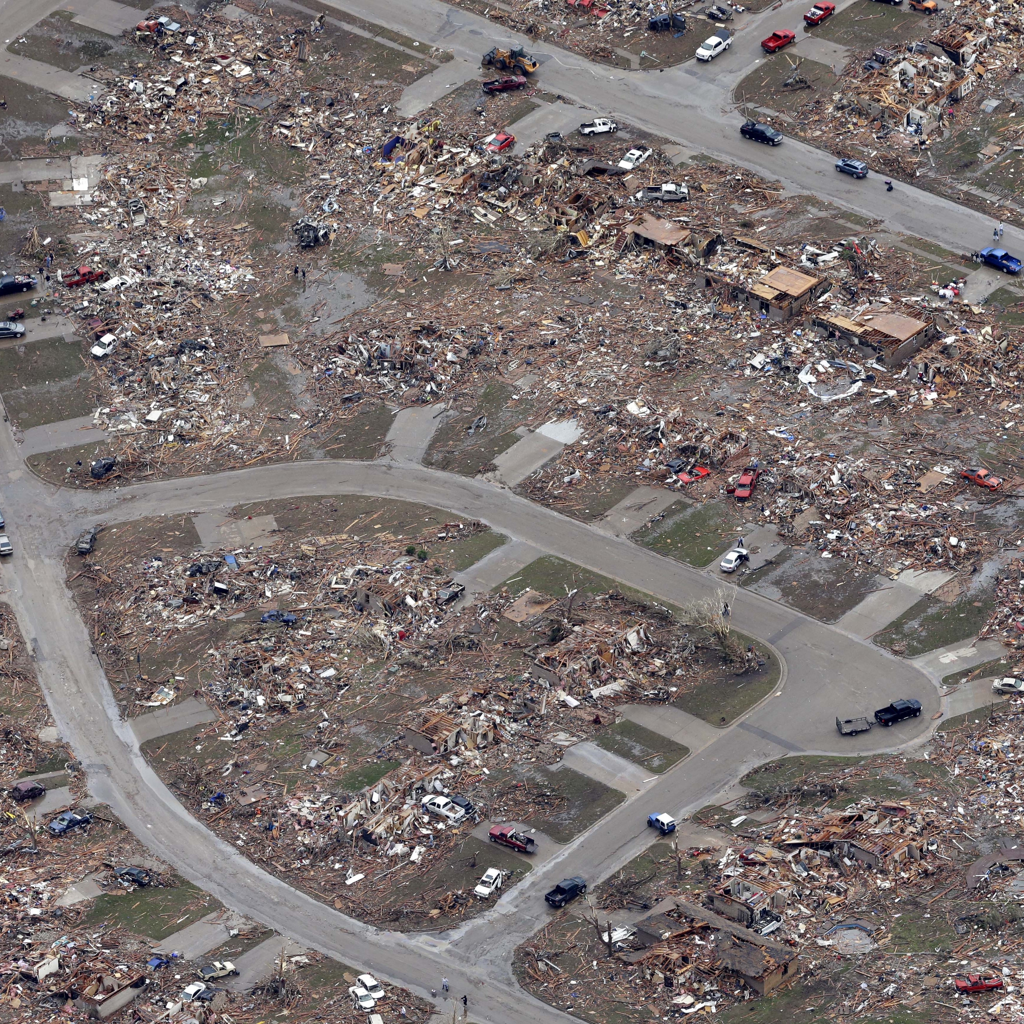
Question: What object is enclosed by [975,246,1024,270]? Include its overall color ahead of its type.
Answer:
blue truck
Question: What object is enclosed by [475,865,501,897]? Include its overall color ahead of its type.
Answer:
white car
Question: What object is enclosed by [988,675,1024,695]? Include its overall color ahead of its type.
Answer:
gray car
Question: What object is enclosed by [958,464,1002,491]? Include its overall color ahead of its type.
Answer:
red truck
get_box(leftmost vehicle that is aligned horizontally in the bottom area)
[6,778,50,800]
